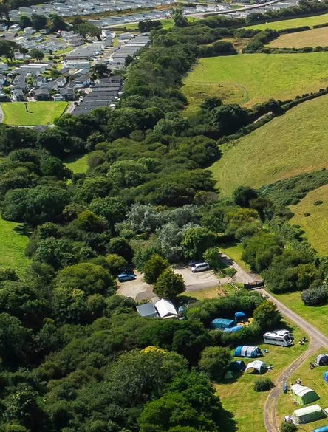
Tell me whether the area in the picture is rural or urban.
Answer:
rural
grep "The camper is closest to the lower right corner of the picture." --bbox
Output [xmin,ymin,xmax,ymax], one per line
[262,330,294,347]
